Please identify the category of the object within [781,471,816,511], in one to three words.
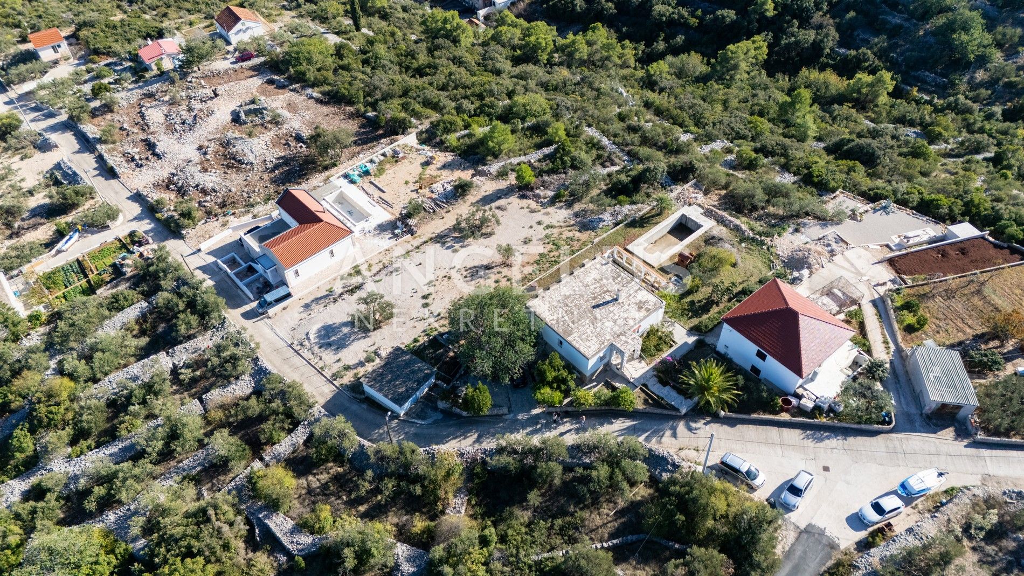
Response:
car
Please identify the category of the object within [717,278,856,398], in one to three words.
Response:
house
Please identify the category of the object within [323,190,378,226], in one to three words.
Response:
swimming pool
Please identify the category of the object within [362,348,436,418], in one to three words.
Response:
building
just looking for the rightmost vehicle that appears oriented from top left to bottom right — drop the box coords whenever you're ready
[719,451,766,489]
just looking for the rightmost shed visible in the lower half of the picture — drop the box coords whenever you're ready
[898,334,980,419]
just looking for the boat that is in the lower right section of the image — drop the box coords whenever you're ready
[897,468,949,495]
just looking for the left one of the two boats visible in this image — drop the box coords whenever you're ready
[49,226,83,254]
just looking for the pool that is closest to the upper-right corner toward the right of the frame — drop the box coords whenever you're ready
[625,206,717,269]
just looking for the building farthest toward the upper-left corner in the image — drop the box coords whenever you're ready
[25,27,77,63]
